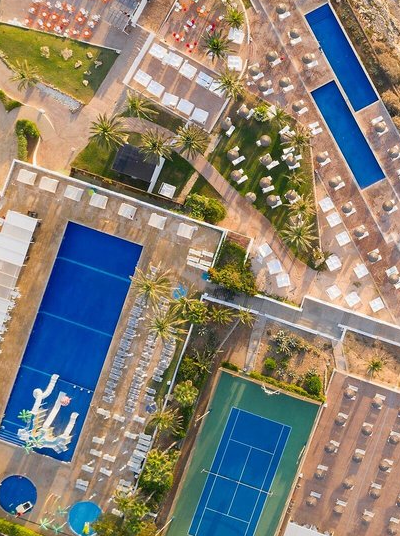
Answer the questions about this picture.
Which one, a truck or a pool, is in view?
pool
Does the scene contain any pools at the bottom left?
Yes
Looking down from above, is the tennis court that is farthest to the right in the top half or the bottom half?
bottom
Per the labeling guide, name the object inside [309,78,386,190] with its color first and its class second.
blue swimming pool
